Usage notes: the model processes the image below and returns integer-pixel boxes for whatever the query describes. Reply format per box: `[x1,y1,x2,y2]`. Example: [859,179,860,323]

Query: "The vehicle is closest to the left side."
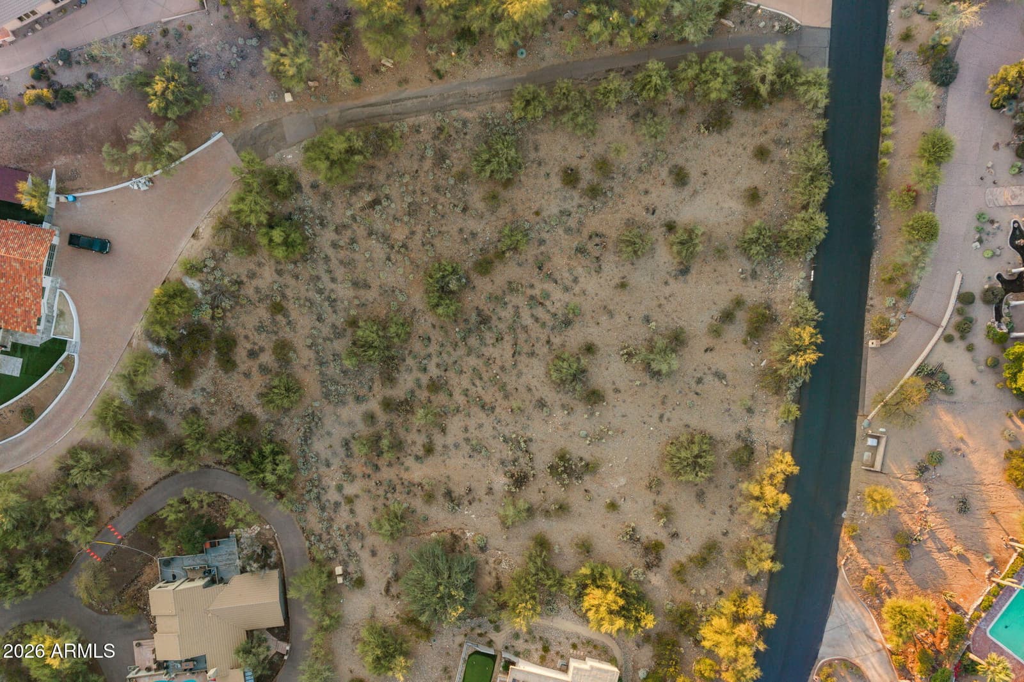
[68,234,112,253]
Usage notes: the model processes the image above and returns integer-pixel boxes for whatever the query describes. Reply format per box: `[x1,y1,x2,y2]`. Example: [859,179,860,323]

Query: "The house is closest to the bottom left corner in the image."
[149,567,288,682]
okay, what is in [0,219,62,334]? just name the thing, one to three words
house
